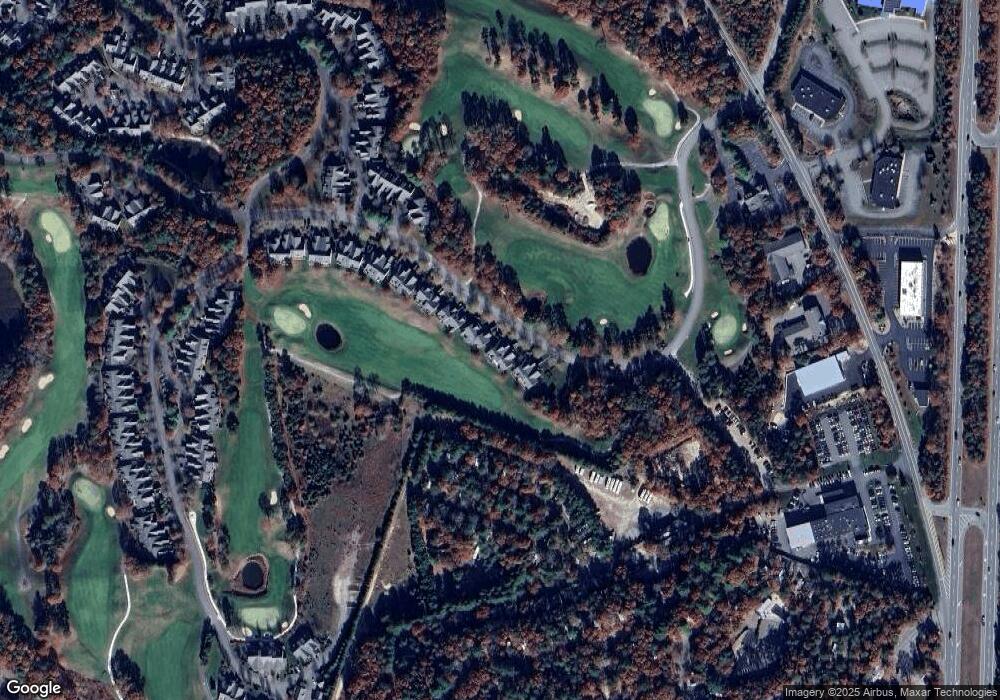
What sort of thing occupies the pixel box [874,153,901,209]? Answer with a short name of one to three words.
building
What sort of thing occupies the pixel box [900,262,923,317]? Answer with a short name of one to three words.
building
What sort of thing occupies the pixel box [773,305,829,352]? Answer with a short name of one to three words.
house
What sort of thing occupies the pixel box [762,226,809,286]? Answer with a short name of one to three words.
house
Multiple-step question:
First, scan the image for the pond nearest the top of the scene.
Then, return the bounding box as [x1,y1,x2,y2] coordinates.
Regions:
[152,146,223,190]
